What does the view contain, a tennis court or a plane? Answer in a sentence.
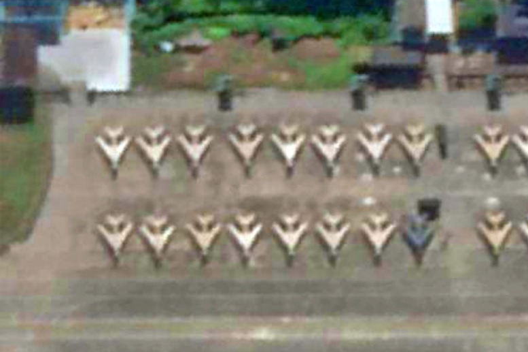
There is a plane in the scene.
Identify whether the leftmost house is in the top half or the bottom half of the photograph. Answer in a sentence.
The leftmost house is in the top half of the image.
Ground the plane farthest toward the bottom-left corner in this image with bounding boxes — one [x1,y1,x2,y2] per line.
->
[97,215,132,262]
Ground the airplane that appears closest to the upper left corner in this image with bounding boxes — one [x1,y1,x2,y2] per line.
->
[96,125,131,172]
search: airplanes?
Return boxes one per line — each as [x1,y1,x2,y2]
[312,124,347,171]
[273,214,308,261]
[97,215,132,262]
[513,122,528,158]
[139,215,174,262]
[272,123,307,171]
[357,123,392,170]
[398,122,432,169]
[177,124,212,171]
[361,213,396,259]
[401,213,436,259]
[479,212,513,258]
[227,214,262,261]
[96,125,131,172]
[475,123,510,170]
[186,214,221,261]
[228,123,263,170]
[136,125,171,172]
[316,214,351,261]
